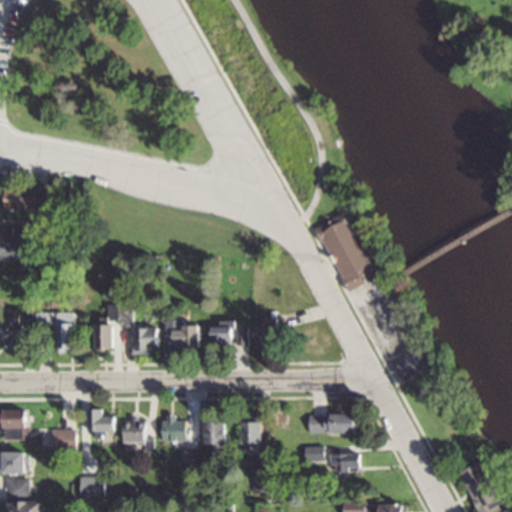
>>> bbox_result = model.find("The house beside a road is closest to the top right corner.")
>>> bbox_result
[322,213,373,288]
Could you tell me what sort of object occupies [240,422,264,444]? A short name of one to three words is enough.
house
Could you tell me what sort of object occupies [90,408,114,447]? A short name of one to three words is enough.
house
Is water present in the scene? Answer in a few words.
Yes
